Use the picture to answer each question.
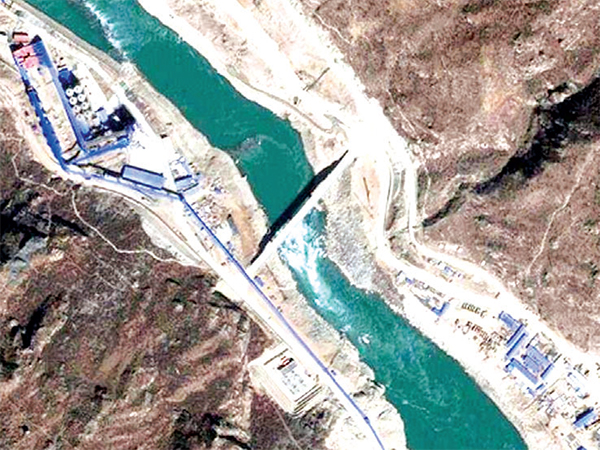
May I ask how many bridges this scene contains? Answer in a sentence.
In total, there is 1 bridge in the scene.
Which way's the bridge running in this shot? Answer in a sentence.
The bridge runs at an angle in the image.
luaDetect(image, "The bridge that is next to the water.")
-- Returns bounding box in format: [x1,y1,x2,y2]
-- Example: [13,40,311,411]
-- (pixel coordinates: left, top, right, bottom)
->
[240,136,367,274]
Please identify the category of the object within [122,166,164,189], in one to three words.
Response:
building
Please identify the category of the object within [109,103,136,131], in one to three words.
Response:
building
